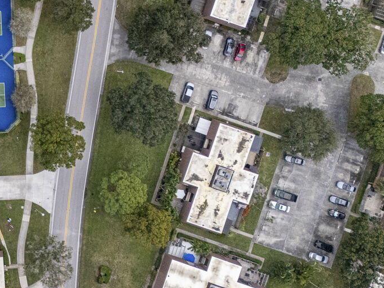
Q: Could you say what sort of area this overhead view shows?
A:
residential area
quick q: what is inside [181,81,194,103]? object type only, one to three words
vehicle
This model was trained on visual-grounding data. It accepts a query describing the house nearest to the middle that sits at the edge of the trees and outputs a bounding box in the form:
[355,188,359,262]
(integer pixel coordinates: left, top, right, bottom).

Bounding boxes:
[162,115,270,237]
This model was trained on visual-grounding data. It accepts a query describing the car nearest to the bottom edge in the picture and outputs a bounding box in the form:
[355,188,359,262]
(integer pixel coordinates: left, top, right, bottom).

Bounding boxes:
[308,252,327,264]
